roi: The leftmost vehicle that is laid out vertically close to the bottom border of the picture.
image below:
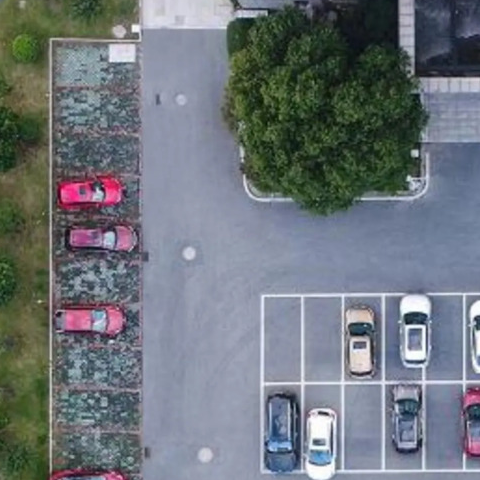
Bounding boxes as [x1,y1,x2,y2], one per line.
[263,392,301,472]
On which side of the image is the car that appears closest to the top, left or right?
left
